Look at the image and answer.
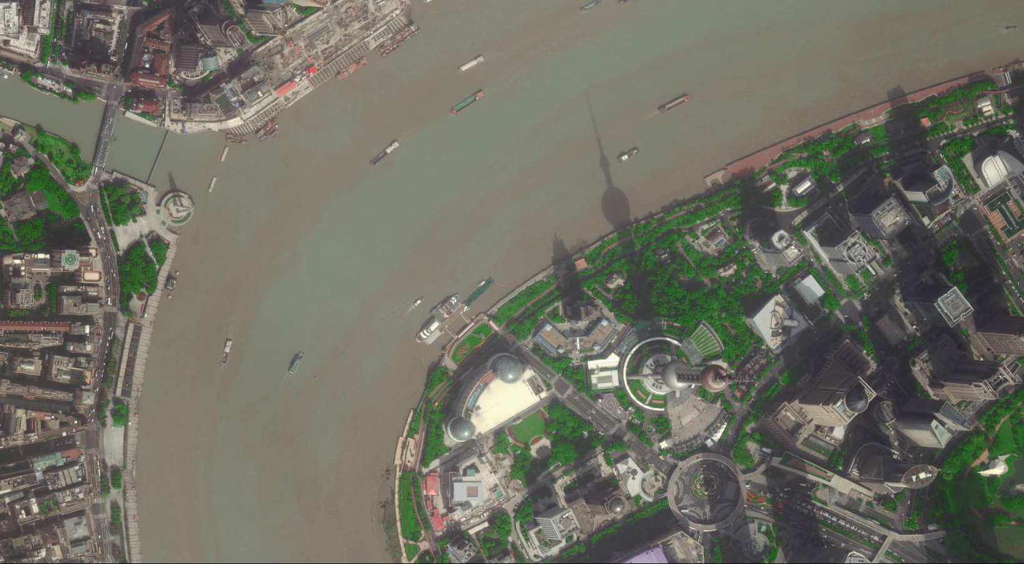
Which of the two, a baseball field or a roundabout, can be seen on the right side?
roundabout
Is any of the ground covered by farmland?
No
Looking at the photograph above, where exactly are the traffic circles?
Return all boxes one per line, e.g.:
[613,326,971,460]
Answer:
[675,460,738,524]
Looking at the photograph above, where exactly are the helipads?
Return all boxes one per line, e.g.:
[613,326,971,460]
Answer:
[62,250,79,268]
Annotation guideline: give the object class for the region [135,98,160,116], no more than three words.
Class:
house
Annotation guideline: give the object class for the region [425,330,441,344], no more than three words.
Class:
ship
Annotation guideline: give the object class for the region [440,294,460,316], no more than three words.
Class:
ship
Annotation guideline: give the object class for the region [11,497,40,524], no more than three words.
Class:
building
